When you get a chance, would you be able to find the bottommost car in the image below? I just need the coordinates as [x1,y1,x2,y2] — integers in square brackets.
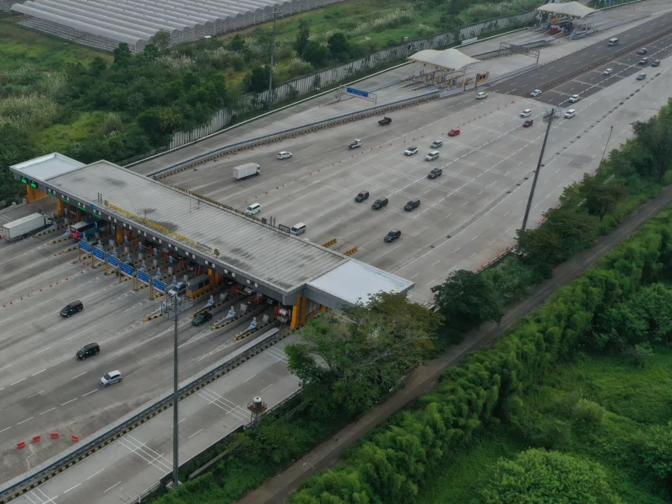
[99,369,123,386]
